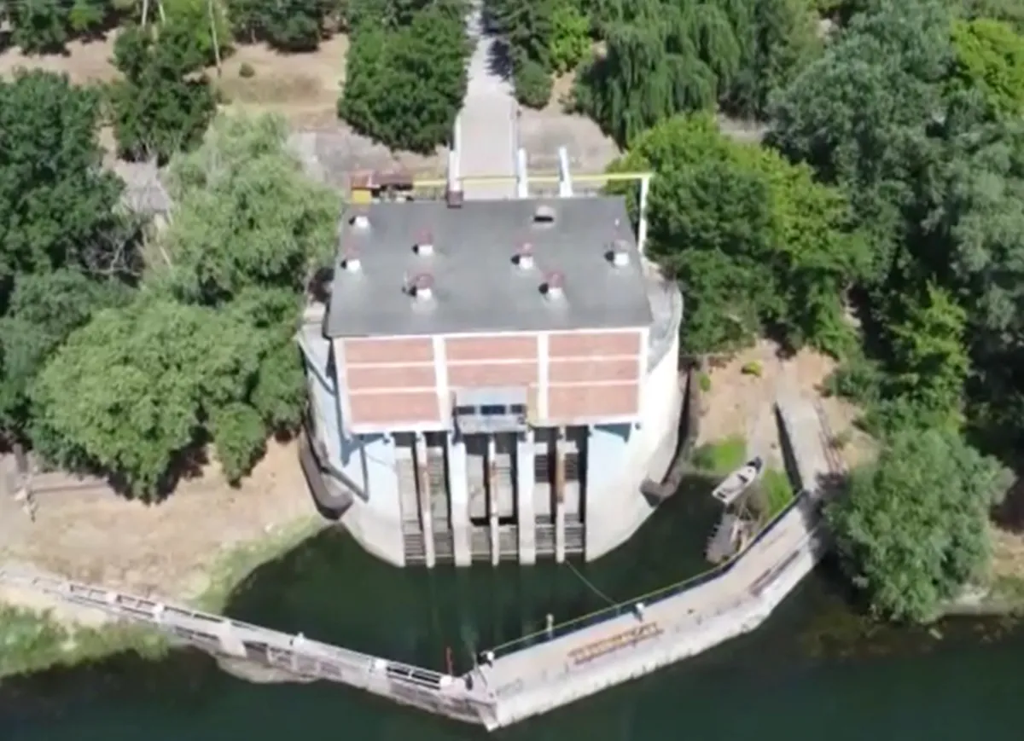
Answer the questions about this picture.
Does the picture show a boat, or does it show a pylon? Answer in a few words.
boat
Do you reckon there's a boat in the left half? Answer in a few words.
No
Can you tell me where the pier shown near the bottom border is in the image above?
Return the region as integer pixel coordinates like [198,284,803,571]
[477,489,873,732]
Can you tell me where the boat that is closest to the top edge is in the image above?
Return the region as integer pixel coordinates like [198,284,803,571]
[713,460,760,508]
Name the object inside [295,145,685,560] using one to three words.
building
